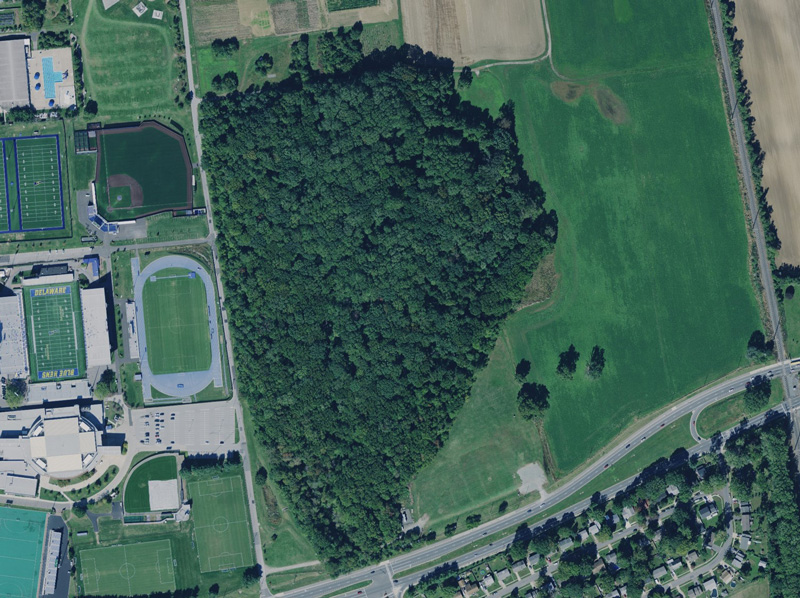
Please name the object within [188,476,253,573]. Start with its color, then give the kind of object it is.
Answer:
green soccer field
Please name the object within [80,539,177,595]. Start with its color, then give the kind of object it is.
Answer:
green soccer field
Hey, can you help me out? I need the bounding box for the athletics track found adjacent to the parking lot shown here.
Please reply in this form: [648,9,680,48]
[131,256,223,402]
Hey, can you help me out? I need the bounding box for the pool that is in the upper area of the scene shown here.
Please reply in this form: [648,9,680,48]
[29,47,76,109]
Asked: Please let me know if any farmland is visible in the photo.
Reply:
Yes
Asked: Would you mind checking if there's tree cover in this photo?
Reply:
Yes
